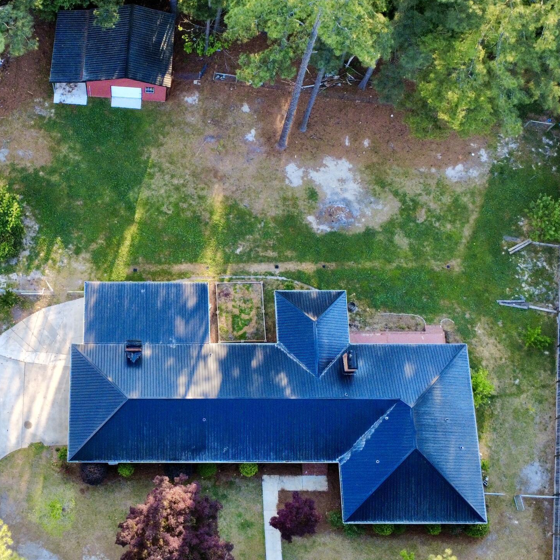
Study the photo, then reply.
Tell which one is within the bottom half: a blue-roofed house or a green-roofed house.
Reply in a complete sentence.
Visible within the bottom half is a blue-roofed house.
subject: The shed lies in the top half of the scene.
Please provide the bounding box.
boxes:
[49,3,177,101]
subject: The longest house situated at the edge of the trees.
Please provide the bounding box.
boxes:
[67,281,489,525]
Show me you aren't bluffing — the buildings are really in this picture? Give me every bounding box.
[49,3,177,101]
[67,281,489,525]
